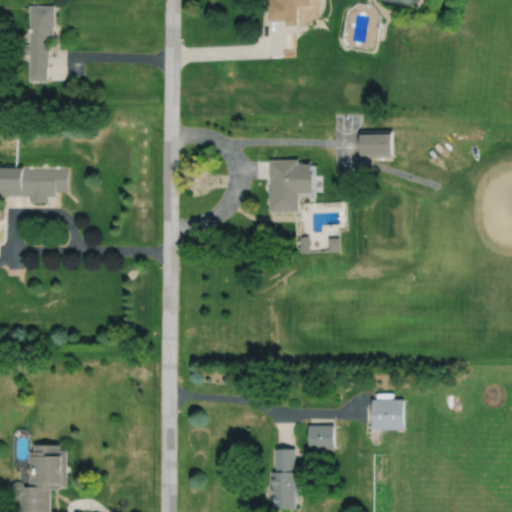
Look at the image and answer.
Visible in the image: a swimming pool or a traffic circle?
swimming pool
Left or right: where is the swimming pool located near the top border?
right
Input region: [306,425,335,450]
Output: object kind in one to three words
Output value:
building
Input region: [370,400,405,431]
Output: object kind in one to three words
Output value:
shed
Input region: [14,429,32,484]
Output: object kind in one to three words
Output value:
swimming pool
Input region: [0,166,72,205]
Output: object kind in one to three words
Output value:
house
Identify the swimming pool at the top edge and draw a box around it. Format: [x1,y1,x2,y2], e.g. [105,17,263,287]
[345,3,380,51]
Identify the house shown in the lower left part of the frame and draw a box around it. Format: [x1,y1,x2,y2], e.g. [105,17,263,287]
[20,446,70,512]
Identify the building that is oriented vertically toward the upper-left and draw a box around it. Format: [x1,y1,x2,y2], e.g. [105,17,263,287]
[25,6,56,82]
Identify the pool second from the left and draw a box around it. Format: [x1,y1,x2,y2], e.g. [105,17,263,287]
[302,202,348,252]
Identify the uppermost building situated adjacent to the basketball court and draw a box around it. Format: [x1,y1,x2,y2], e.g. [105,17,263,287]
[355,130,394,160]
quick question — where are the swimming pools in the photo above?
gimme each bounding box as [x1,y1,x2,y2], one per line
[14,429,32,484]
[345,3,380,51]
[302,202,348,252]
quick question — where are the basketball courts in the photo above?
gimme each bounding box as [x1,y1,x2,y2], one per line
[336,114,363,137]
